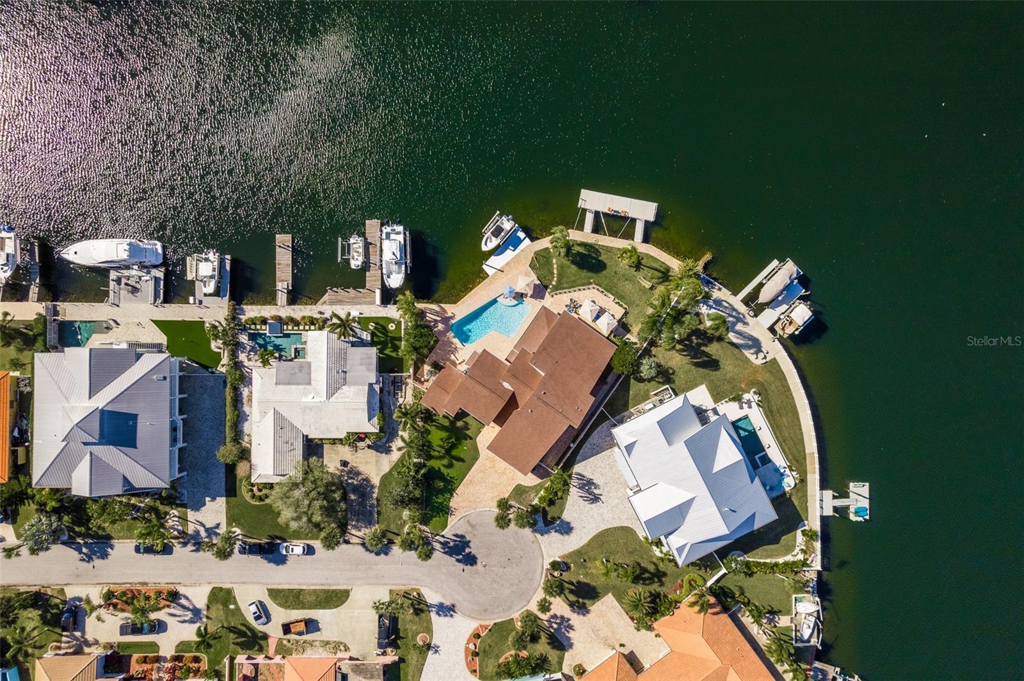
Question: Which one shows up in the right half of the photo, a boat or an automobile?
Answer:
boat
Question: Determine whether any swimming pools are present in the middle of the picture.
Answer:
Yes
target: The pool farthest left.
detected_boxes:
[57,319,114,349]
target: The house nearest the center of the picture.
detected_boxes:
[421,306,618,476]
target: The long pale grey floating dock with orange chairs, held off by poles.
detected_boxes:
[578,189,658,222]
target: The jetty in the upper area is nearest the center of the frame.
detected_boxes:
[483,224,532,275]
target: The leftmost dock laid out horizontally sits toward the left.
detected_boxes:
[102,267,178,303]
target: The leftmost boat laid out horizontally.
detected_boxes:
[53,239,167,267]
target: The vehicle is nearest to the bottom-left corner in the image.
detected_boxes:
[60,604,78,635]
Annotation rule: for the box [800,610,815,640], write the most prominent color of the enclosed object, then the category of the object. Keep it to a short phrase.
white boat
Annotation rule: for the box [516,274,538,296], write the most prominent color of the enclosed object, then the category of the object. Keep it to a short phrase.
white umbrella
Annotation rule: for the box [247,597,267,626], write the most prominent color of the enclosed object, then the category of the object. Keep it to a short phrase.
white car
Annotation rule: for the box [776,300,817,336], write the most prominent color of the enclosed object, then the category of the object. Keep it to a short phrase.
white boat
